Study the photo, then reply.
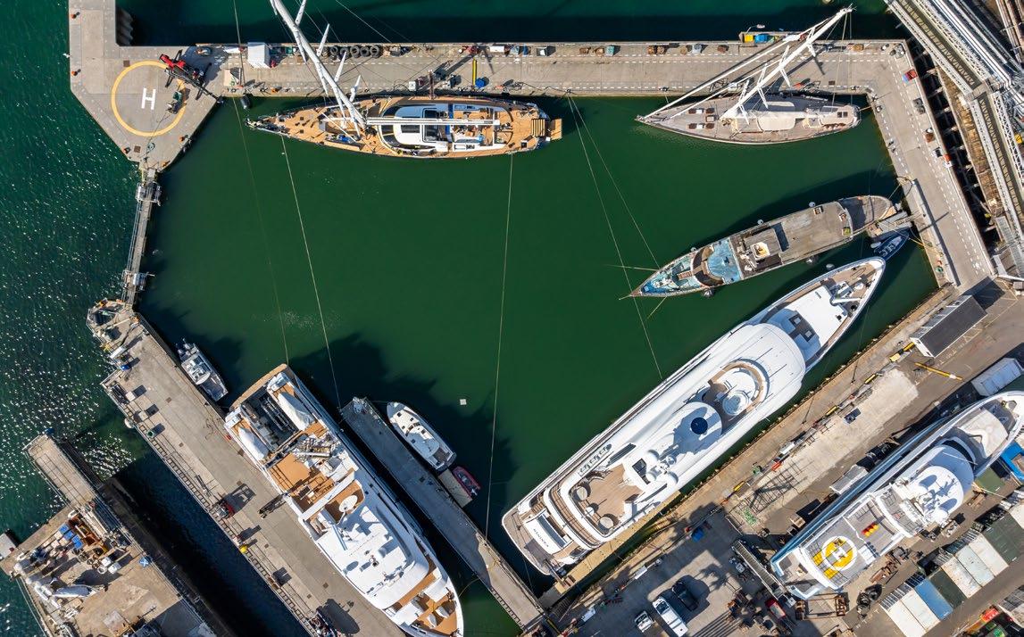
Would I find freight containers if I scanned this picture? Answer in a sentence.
Yes, a freight container can be made out from above.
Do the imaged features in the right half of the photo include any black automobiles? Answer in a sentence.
Yes, a black automobile is visible in the right half of the photo.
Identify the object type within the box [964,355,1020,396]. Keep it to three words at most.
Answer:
shipping container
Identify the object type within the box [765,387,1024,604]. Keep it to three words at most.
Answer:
boat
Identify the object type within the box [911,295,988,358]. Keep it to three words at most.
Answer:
building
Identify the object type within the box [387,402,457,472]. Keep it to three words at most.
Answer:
boat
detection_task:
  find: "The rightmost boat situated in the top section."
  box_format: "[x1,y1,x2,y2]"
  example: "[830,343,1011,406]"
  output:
[874,229,909,260]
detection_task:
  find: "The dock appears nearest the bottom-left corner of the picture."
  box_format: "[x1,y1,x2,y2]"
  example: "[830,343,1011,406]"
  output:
[0,432,233,637]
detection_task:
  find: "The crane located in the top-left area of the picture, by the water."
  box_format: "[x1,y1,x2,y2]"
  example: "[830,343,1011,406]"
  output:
[157,48,223,103]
